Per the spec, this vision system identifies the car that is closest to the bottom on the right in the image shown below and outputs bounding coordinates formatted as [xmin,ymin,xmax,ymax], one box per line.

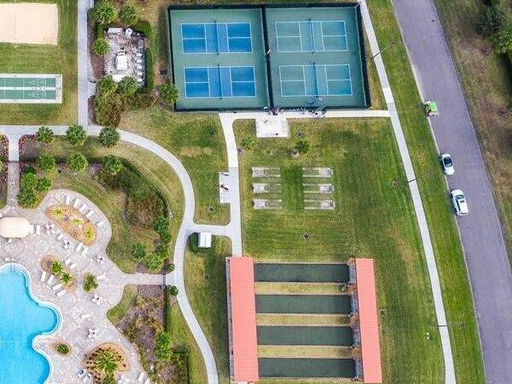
[451,190,470,216]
